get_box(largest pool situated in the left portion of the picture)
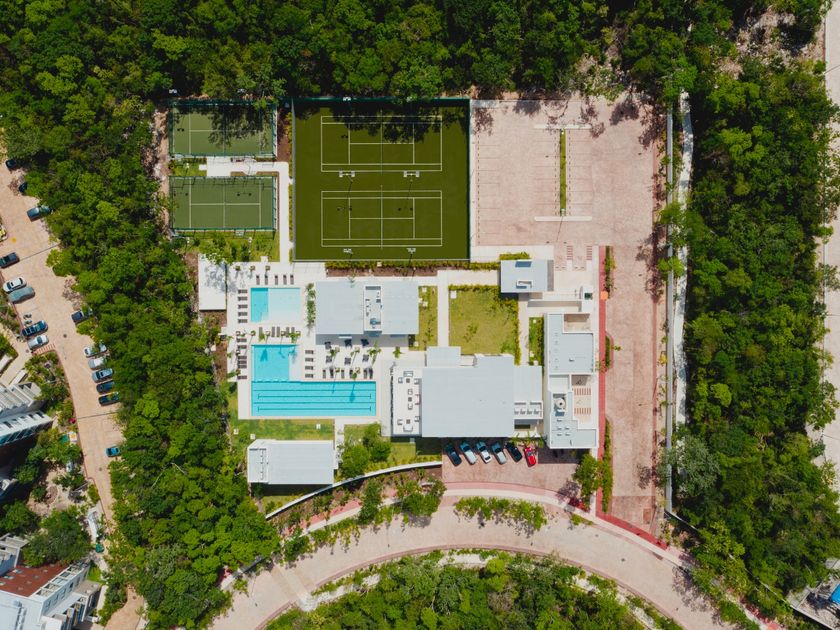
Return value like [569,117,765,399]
[250,344,377,418]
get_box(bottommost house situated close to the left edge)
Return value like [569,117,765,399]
[0,527,103,630]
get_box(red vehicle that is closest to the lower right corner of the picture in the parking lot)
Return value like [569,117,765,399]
[523,444,538,465]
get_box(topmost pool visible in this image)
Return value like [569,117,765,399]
[249,287,302,323]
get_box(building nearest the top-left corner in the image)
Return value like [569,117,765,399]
[199,254,227,310]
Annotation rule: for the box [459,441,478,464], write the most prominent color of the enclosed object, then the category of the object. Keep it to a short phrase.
white car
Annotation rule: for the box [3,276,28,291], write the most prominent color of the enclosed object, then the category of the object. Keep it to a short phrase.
white car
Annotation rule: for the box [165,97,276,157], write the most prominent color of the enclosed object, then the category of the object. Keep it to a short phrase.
green sports court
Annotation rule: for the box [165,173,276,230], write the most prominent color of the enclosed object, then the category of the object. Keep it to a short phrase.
green sports court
